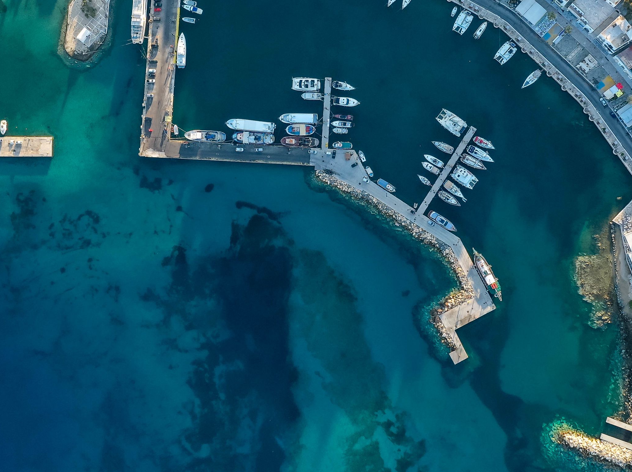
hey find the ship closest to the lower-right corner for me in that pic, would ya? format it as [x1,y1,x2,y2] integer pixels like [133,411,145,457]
[473,250,503,300]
